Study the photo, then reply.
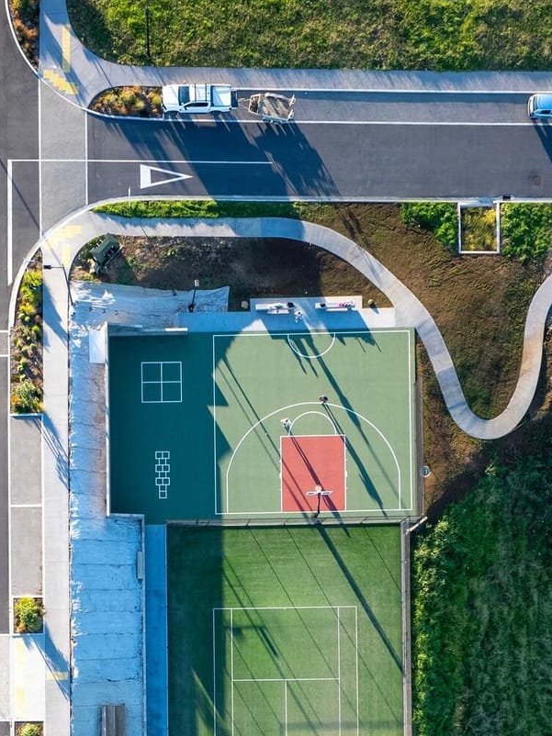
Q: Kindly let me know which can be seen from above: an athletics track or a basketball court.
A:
basketball court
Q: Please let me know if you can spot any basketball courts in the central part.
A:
Yes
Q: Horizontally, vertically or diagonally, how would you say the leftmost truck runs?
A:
horizontally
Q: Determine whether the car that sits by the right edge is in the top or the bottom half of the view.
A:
top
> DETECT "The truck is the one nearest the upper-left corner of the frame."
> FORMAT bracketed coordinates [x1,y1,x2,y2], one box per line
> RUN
[164,80,238,116]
